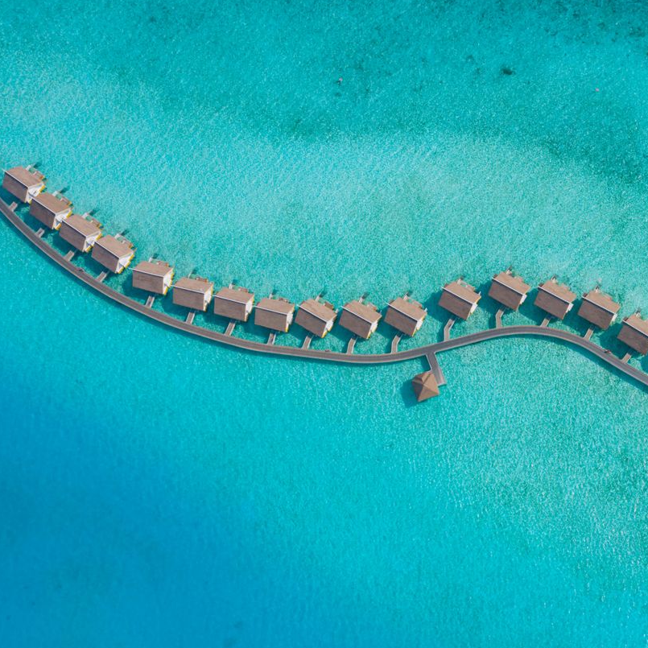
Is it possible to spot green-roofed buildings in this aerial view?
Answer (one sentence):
No, this view has no green-roofed building in it.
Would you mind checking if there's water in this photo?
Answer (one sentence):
Yes, water shows up in the scene.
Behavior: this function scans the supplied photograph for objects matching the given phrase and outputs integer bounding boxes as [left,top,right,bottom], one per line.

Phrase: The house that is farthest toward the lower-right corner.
[616,309,648,356]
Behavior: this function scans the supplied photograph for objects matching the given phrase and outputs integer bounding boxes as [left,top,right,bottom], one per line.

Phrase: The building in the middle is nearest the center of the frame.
[295,294,339,339]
